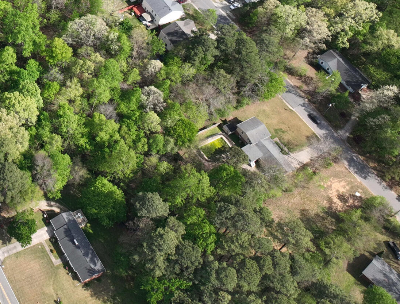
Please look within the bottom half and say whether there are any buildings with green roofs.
No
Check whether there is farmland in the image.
No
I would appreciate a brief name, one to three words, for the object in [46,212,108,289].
house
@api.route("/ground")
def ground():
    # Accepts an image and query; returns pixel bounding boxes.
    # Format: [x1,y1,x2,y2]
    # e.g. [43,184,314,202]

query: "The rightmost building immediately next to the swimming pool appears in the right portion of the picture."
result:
[229,120,293,186]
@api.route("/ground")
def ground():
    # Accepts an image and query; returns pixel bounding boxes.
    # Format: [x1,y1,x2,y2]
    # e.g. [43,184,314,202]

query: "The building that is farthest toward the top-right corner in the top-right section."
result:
[318,51,373,98]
